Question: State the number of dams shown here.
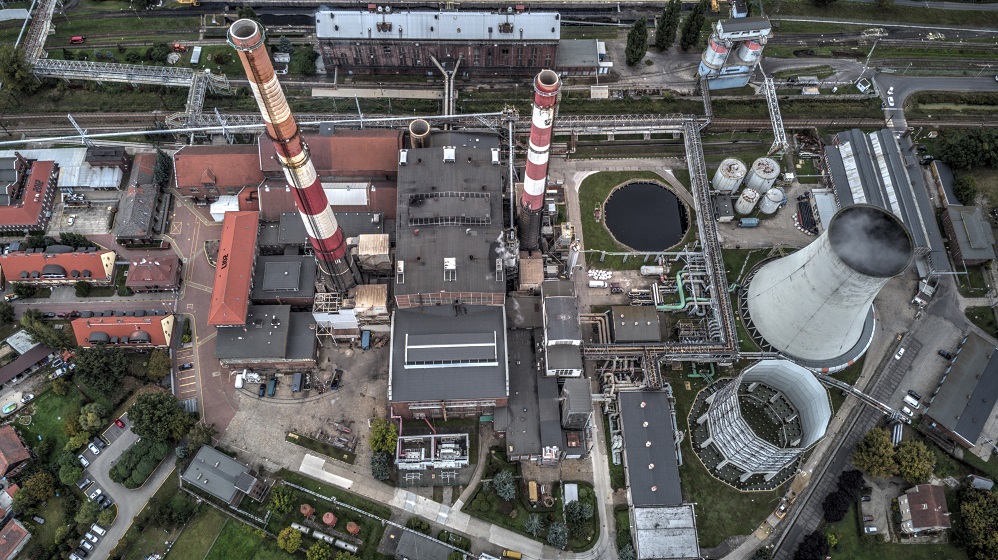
zero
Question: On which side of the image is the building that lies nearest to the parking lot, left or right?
left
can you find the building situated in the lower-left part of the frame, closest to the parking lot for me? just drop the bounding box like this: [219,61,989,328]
[181,444,254,504]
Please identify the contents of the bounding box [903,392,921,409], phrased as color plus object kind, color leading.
white vehicle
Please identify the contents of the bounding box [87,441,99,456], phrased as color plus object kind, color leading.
white vehicle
